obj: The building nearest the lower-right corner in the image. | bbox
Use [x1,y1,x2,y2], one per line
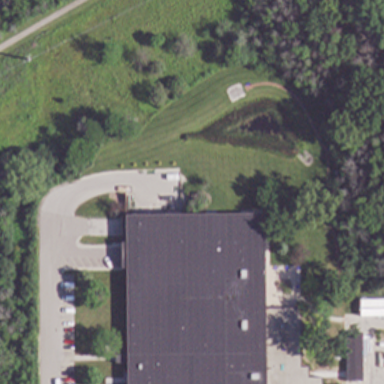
[348,335,364,382]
